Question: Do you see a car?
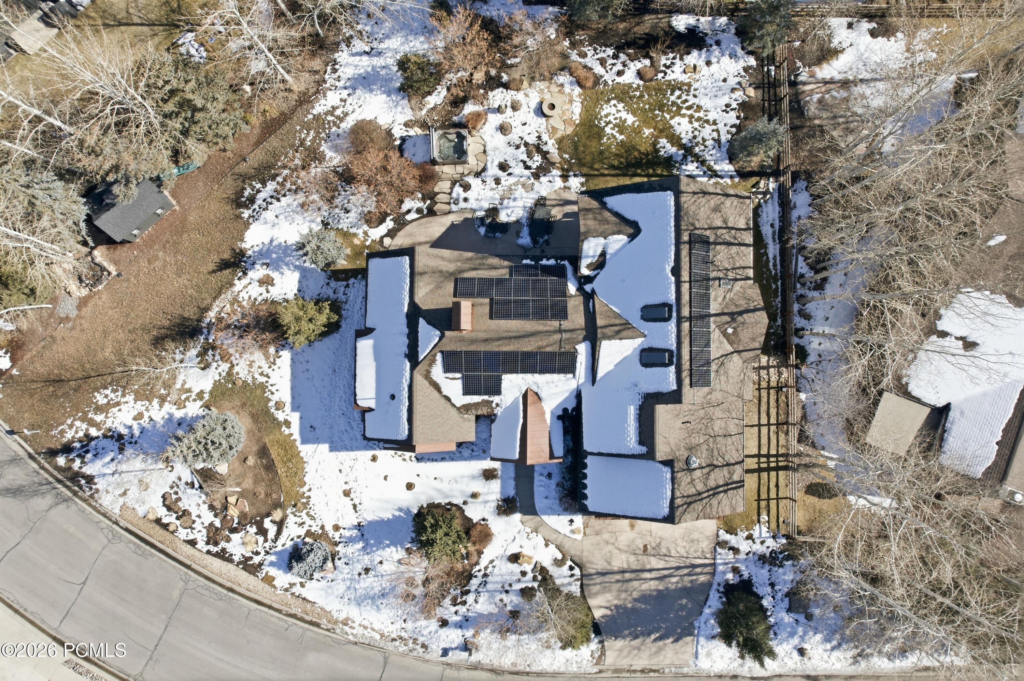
No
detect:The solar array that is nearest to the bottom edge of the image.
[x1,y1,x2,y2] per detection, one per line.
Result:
[445,350,577,395]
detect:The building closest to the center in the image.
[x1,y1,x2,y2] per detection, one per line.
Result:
[354,176,770,525]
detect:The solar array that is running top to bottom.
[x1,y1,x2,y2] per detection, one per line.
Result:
[692,233,711,390]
